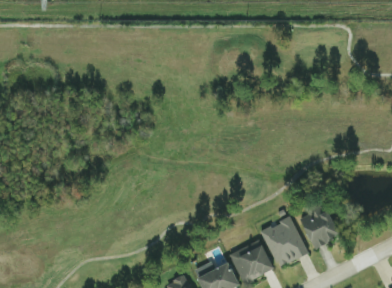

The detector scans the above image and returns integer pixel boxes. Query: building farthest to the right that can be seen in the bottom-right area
[301,210,339,251]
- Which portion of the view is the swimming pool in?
bottom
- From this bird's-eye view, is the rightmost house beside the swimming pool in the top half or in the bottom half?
bottom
